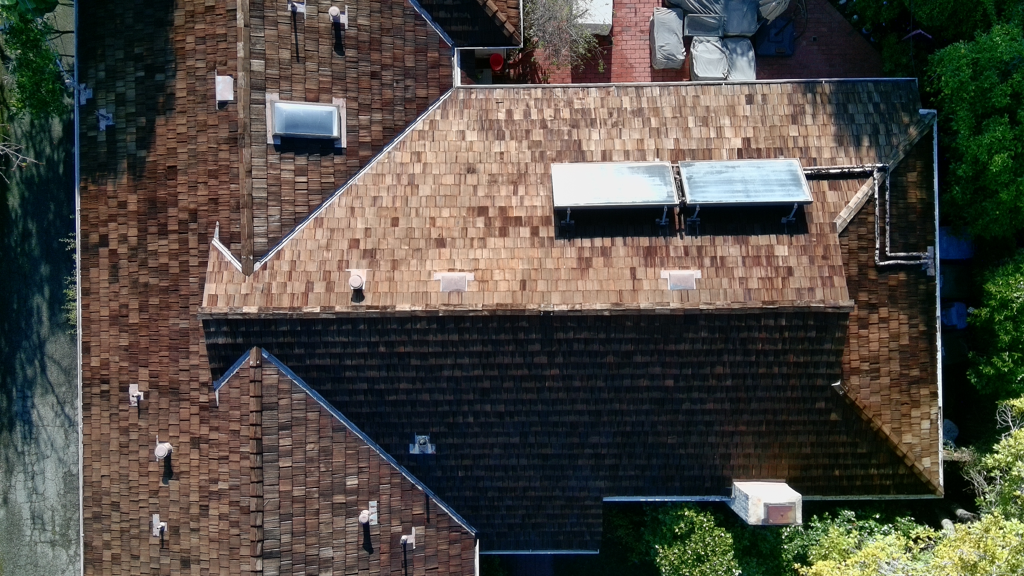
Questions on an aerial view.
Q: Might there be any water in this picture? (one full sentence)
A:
No, water can't be seen anywhere here.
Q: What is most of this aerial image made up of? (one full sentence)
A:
The largest share of the image is taken up by buildings.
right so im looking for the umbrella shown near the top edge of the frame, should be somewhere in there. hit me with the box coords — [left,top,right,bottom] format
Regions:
[754,0,815,56]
